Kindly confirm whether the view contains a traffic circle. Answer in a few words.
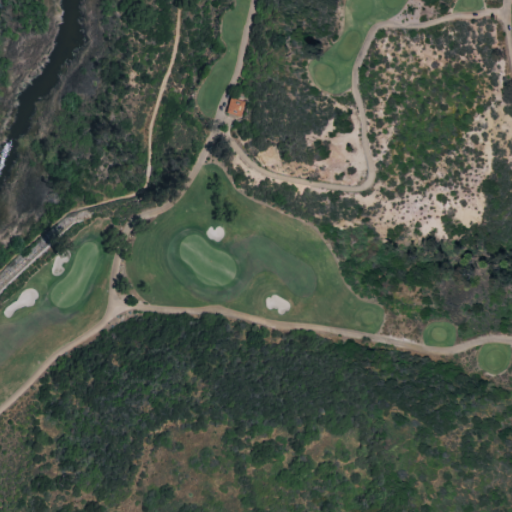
No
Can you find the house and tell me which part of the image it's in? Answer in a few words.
top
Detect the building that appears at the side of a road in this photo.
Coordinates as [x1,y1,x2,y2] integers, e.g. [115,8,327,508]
[227,94,246,120]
